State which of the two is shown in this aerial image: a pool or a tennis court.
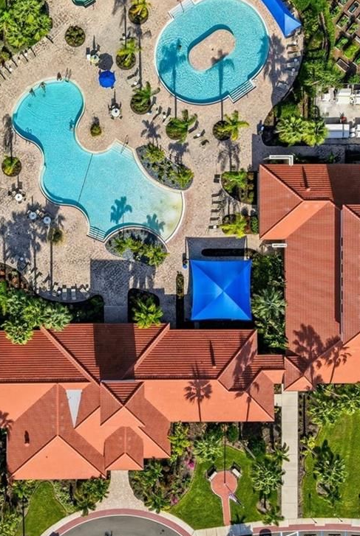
pool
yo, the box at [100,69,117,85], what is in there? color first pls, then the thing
blue umbrella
